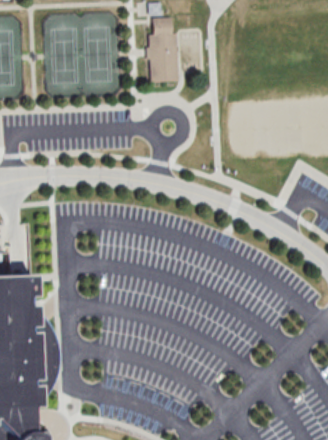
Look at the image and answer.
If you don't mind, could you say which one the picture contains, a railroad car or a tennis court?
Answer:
tennis court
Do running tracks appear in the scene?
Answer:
No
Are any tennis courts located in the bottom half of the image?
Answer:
No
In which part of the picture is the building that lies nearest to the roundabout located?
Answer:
top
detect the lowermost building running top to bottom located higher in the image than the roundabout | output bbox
[146,18,179,83]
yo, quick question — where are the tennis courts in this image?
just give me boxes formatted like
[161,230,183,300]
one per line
[80,12,118,94]
[44,14,82,94]
[0,14,22,98]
